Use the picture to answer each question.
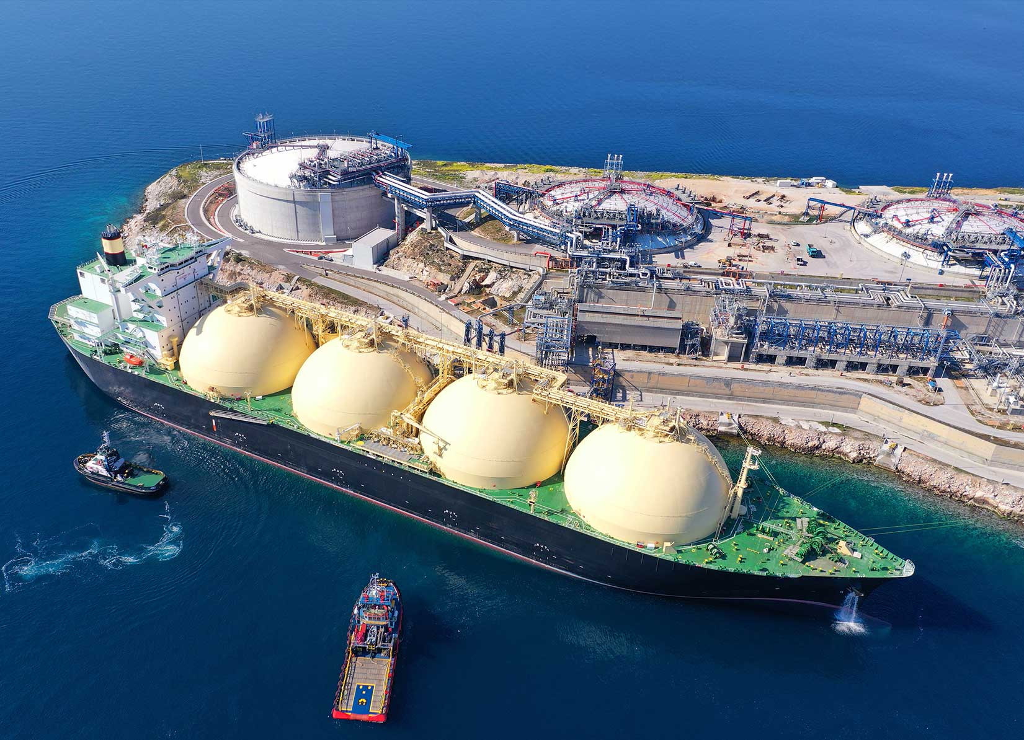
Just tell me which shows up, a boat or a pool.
boat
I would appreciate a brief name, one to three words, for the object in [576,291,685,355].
building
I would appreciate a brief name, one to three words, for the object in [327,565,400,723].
boat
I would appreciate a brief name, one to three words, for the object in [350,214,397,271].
shed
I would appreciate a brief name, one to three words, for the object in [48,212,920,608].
ship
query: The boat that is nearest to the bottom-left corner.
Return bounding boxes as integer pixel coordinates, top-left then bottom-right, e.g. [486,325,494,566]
[69,420,173,491]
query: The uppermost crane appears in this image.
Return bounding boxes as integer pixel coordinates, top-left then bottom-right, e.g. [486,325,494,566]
[371,126,412,175]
